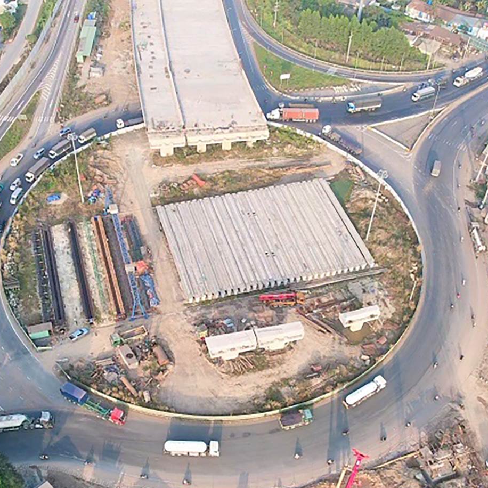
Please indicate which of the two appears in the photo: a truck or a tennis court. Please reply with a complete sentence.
It is a truck that can be seen here.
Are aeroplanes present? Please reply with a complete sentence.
No, the picture doesn't show any aeroplane.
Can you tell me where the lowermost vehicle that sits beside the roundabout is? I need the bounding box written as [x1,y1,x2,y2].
[165,439,219,456]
